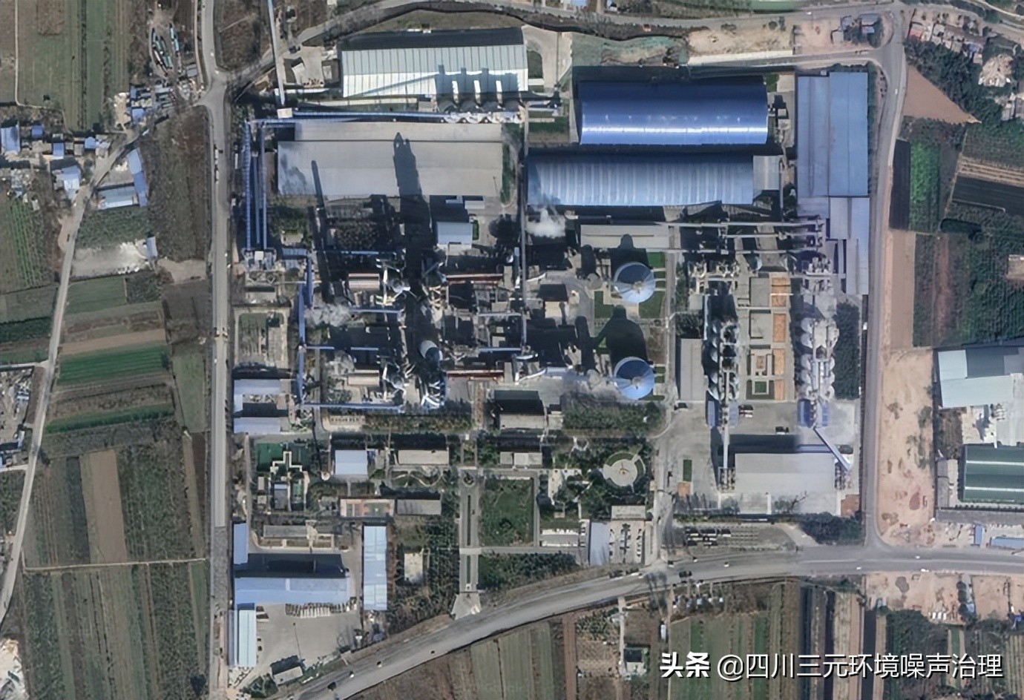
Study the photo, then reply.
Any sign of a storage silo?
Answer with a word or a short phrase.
Yes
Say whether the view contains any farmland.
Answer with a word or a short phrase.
Yes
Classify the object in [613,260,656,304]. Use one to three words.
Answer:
silo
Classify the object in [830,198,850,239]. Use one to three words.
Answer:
shed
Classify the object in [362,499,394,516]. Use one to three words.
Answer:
sports court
